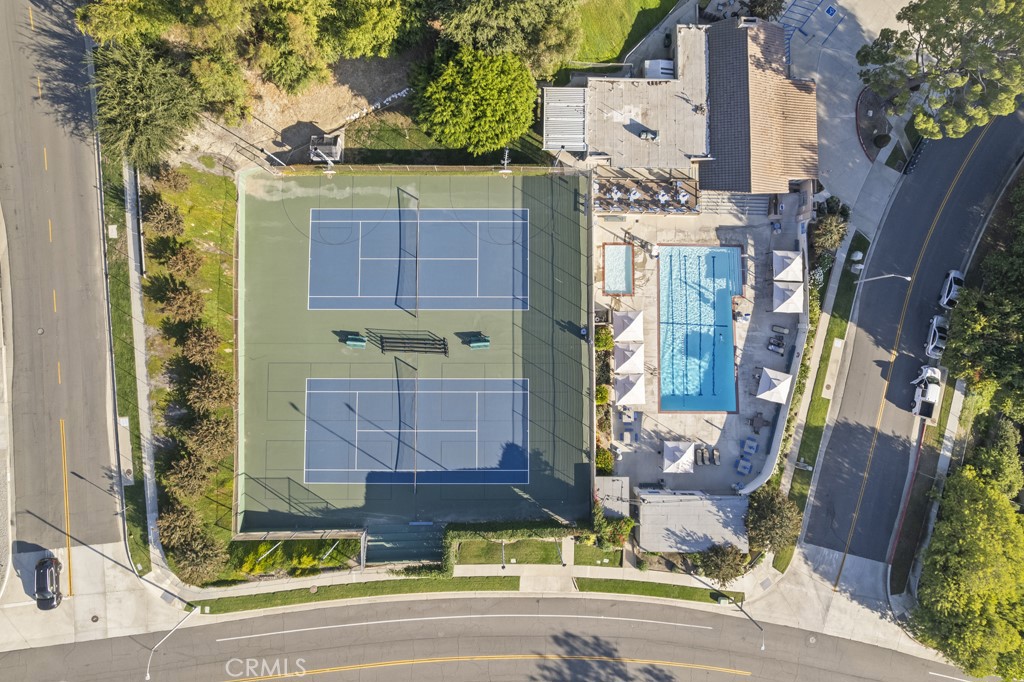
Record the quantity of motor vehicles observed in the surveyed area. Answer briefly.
4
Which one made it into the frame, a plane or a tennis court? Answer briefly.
tennis court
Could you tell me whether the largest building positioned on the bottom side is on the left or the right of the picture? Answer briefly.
right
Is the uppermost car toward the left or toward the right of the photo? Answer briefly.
right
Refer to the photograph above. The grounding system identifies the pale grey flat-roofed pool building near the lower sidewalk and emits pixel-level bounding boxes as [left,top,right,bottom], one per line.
[635,489,748,552]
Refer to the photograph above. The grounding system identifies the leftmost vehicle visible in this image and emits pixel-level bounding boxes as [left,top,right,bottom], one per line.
[35,558,64,608]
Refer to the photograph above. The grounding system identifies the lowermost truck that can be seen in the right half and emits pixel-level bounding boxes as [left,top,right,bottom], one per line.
[910,365,943,421]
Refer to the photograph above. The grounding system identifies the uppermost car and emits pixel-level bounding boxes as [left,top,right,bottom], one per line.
[934,267,965,312]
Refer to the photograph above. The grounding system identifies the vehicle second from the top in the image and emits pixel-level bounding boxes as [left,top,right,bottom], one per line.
[921,314,950,359]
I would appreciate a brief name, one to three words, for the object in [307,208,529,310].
tennis court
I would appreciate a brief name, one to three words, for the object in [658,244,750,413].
swimming pool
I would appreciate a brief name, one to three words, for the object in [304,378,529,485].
tennis court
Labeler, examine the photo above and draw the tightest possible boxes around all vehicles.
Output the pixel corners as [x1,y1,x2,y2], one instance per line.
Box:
[934,267,965,312]
[910,365,943,421]
[921,314,950,359]
[35,558,64,608]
